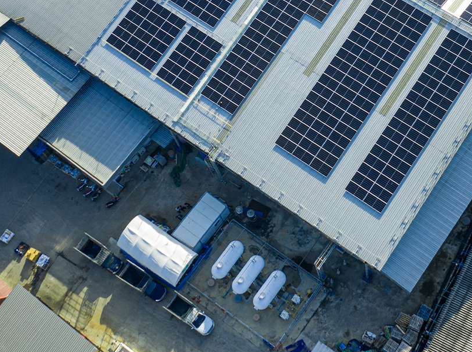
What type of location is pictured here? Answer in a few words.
industrial area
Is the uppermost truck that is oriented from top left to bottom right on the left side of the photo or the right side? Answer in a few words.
left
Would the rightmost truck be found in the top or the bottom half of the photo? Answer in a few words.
bottom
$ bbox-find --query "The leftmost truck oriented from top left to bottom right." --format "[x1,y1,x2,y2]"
[71,239,125,283]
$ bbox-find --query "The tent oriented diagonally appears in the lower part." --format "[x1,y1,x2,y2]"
[115,214,207,295]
